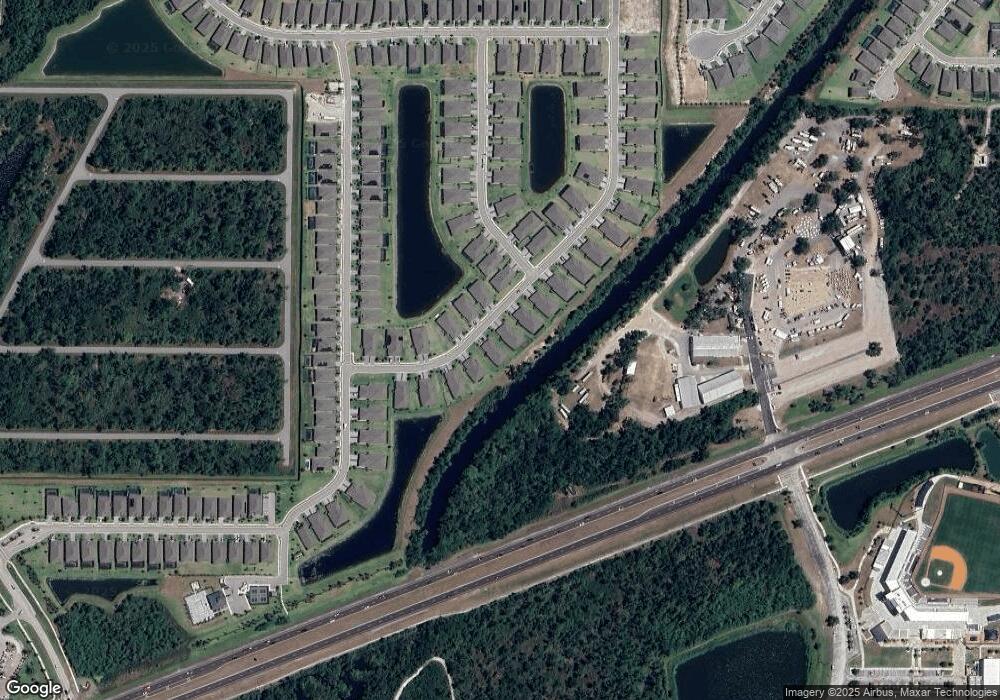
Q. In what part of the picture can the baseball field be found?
bottom right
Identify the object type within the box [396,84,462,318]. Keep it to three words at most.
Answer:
pond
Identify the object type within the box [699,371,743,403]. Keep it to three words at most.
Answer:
building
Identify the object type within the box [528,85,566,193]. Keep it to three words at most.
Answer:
pond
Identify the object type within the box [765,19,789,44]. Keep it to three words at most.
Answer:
house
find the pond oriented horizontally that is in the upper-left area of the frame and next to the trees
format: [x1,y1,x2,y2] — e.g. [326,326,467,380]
[45,0,222,75]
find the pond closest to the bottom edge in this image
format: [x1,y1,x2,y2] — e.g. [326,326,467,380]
[675,631,808,700]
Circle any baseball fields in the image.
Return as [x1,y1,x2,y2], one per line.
[912,484,1000,598]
